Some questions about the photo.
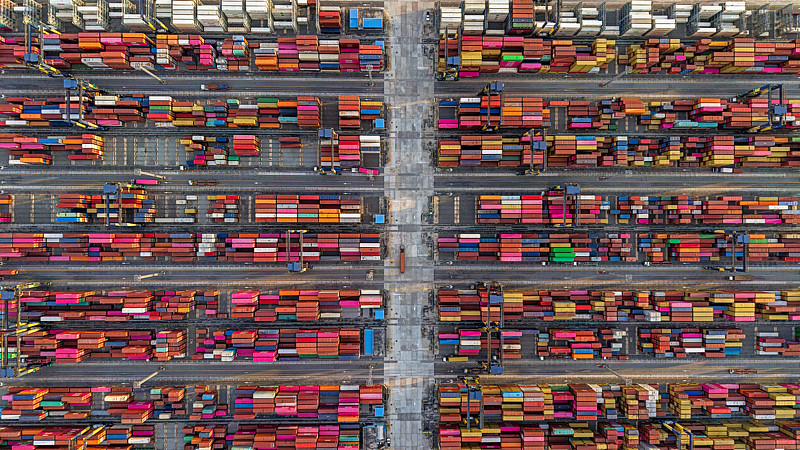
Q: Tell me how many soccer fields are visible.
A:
0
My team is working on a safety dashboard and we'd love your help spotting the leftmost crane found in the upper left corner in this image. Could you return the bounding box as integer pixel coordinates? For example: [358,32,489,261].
[23,20,66,76]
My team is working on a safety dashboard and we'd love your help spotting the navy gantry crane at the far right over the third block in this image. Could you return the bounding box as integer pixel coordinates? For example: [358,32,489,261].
[741,84,784,134]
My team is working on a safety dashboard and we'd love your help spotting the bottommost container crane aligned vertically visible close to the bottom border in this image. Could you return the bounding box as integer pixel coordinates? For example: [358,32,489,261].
[459,375,484,429]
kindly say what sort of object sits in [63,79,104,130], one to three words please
container crane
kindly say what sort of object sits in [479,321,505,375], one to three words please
container crane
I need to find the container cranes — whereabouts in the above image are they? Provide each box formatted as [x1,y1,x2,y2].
[532,0,562,39]
[478,82,504,133]
[138,0,173,34]
[741,84,784,134]
[550,184,580,227]
[63,79,104,130]
[287,227,311,271]
[23,20,66,76]
[479,321,505,375]
[2,281,47,330]
[659,414,695,450]
[479,280,504,328]
[438,24,462,79]
[459,375,484,429]
[1,324,46,376]
[103,182,141,227]
[317,125,340,173]
[519,127,548,174]
[708,227,749,270]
